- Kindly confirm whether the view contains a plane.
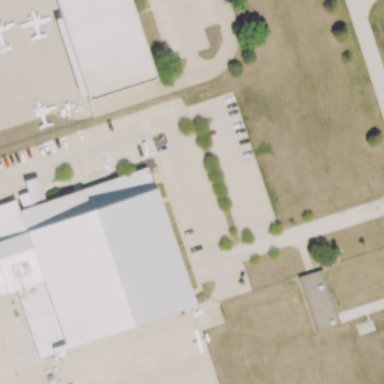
Yes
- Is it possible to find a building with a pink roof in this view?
No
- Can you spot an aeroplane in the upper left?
Yes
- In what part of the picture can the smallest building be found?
bottom right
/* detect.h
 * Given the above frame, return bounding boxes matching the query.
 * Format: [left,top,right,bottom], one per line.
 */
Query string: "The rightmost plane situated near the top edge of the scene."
[20,10,51,38]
